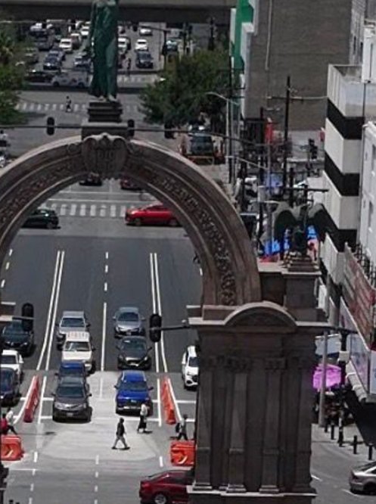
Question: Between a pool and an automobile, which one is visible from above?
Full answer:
The one in the frame is an automobile.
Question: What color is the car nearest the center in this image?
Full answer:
In this view, the car nearest the center is red.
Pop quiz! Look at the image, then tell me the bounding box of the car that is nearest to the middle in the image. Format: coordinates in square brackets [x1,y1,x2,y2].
[125,202,182,227]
